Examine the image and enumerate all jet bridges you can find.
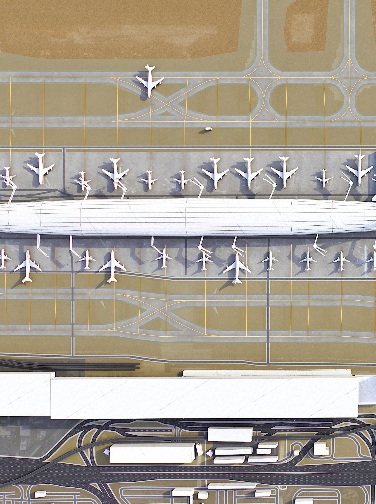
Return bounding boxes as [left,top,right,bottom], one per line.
[38,234,56,257]
[263,174,278,199]
[191,176,206,199]
[339,173,354,201]
[70,235,86,258]
[113,178,131,200]
[3,176,23,204]
[313,234,328,256]
[76,177,95,200]
[198,236,214,258]
[231,236,248,257]
[152,236,167,255]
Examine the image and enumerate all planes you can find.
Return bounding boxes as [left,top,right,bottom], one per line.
[140,169,158,190]
[0,249,12,269]
[101,157,129,189]
[155,249,173,269]
[135,65,163,98]
[270,156,298,188]
[333,251,351,270]
[78,250,96,270]
[315,169,333,188]
[12,250,41,283]
[300,251,317,271]
[195,251,213,270]
[346,154,374,186]
[25,152,53,185]
[366,251,376,270]
[201,157,229,189]
[235,157,263,189]
[262,250,280,271]
[97,250,126,283]
[222,252,250,284]
[173,170,192,189]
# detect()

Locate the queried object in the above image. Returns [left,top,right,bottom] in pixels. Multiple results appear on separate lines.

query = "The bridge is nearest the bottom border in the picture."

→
[0,435,208,487]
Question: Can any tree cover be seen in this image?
No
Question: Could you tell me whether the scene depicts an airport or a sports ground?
airport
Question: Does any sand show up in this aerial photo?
Yes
